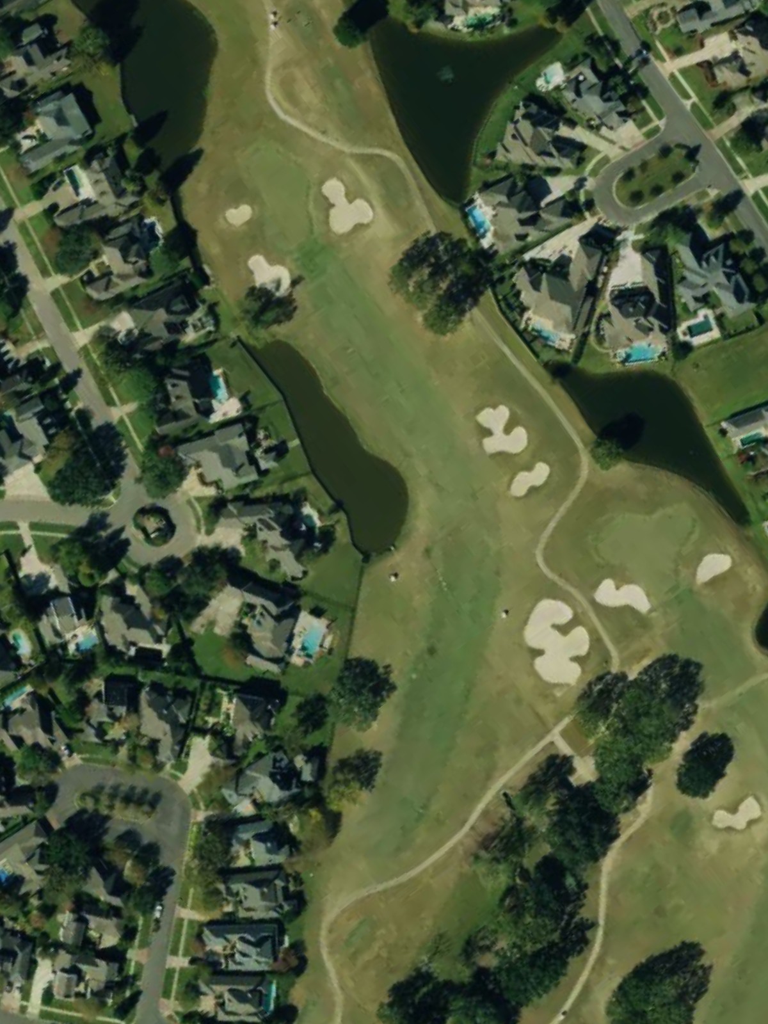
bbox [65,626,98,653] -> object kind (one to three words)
swimming pool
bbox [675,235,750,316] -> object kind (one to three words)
house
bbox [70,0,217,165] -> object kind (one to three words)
pond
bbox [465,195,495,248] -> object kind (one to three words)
swimming pool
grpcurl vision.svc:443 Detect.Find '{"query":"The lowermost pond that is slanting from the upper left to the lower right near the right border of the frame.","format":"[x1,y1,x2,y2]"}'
[556,369,748,523]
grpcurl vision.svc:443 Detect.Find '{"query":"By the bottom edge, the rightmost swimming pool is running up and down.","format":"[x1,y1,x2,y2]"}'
[262,979,276,1014]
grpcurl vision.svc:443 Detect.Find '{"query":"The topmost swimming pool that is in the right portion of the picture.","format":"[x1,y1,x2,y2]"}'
[451,9,502,31]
